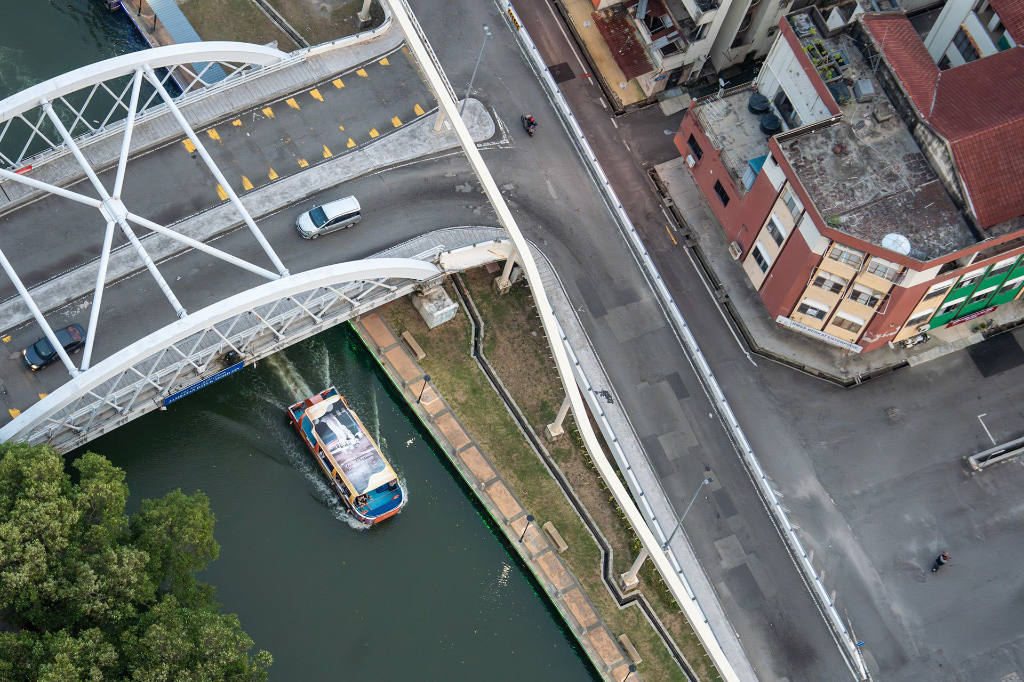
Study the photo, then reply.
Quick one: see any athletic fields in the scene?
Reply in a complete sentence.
No, no athletic field is visible in the view.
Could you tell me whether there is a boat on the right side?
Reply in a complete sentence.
No, no boat is visible on the right side.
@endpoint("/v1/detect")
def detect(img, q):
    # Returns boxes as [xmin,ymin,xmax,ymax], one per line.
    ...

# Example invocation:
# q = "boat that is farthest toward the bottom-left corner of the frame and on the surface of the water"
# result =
[288,386,398,530]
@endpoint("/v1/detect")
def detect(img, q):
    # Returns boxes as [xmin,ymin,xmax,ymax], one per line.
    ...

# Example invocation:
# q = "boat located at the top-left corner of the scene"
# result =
[95,0,126,21]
